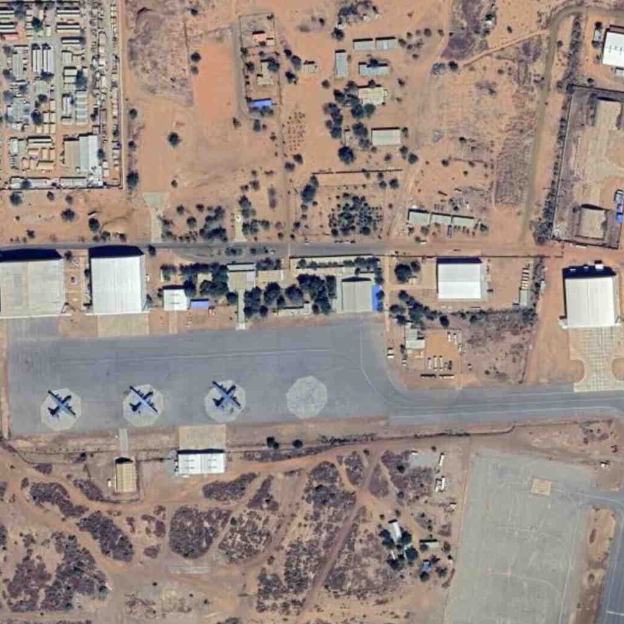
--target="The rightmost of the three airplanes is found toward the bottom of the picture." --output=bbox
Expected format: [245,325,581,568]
[214,384,240,410]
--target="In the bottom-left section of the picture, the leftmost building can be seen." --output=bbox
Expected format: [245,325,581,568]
[116,462,137,492]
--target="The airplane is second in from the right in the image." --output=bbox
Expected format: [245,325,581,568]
[131,390,159,416]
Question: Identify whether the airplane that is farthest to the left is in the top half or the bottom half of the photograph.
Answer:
bottom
